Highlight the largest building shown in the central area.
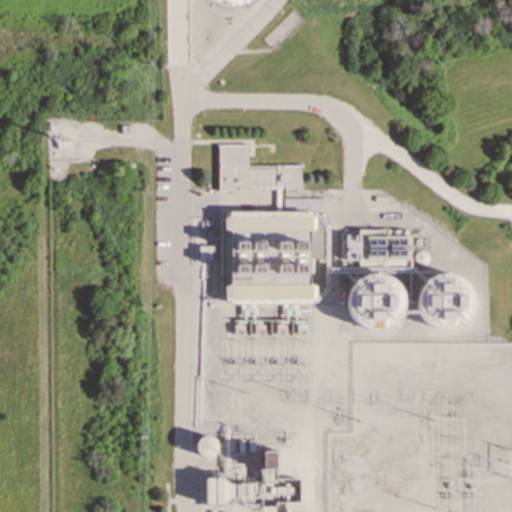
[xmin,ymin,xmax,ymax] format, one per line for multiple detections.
[222,210,326,304]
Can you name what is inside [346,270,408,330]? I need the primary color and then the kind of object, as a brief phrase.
white storage tank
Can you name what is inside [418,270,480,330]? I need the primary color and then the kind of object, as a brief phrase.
white storage tank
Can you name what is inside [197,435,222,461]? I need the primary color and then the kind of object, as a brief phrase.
white silo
